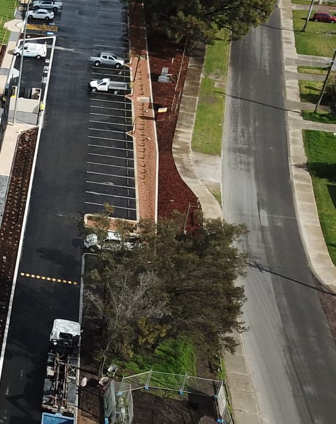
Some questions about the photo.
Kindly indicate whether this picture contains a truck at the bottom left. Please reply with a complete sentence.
Yes, looking at the bottom left, one can make out a truck.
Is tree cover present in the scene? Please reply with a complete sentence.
Yes, there is tree cover in the image.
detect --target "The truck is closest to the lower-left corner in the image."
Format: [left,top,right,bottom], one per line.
[41,325,83,417]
